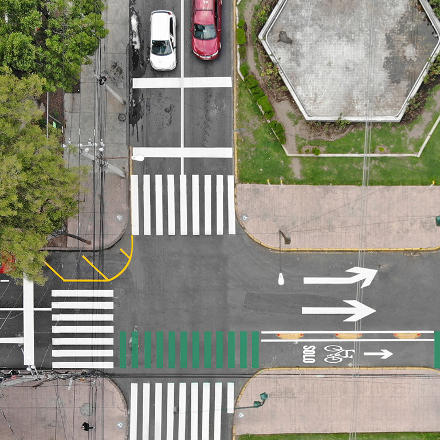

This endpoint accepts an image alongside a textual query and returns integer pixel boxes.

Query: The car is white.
[143,6,176,69]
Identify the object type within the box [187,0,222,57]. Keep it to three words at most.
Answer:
car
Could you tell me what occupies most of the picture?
paved ground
